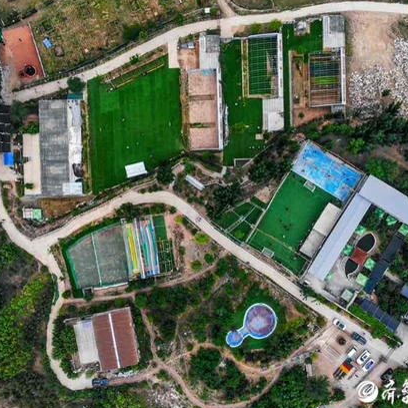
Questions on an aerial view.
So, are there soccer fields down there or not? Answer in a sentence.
Yes, the picture does show a soccer field.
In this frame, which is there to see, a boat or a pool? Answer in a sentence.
I can see a pool in this picture.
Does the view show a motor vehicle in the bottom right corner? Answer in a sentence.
Yes, looking in the bottom right corner, one can make out a motor vehicle.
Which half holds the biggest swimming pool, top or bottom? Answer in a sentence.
The bottom half of the photo is where the biggest swimming pool is.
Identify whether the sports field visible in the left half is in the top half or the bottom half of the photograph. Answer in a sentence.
The sports field visible in the left half is in the top half of the image.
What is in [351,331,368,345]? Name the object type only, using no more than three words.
vehicle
